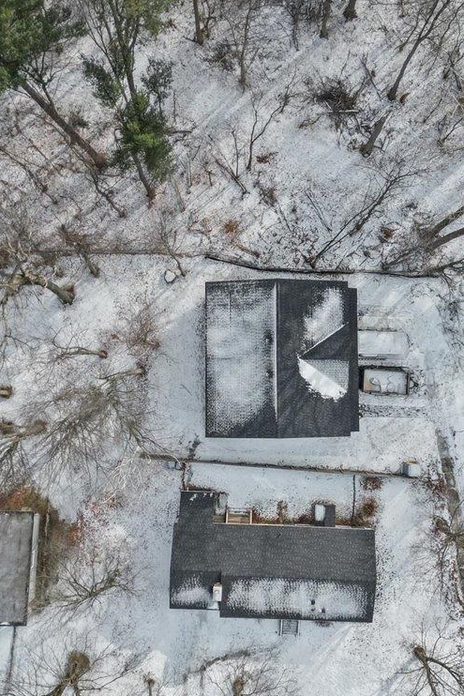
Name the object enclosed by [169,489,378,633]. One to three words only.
house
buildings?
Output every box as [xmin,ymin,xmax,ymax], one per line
[169,489,378,633]
[206,279,358,438]
[0,509,41,628]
